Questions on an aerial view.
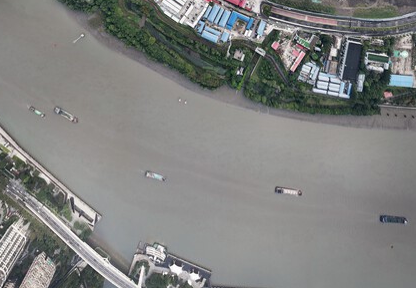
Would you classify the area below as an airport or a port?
port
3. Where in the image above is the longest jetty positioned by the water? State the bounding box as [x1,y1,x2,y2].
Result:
[155,254,212,287]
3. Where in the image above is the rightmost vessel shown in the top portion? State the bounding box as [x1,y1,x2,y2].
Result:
[54,106,78,123]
